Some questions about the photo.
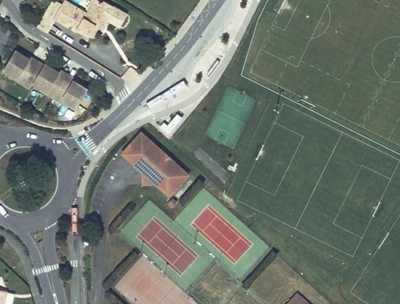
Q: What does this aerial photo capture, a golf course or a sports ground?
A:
sports ground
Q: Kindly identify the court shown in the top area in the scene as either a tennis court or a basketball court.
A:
basketball court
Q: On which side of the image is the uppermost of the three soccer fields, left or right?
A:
right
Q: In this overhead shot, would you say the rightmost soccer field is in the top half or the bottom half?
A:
bottom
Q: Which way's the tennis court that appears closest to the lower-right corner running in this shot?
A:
diagonally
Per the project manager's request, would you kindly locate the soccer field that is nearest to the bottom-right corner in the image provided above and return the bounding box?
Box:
[351,211,400,304]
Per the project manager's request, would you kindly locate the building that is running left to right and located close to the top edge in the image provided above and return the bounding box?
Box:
[37,0,130,39]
